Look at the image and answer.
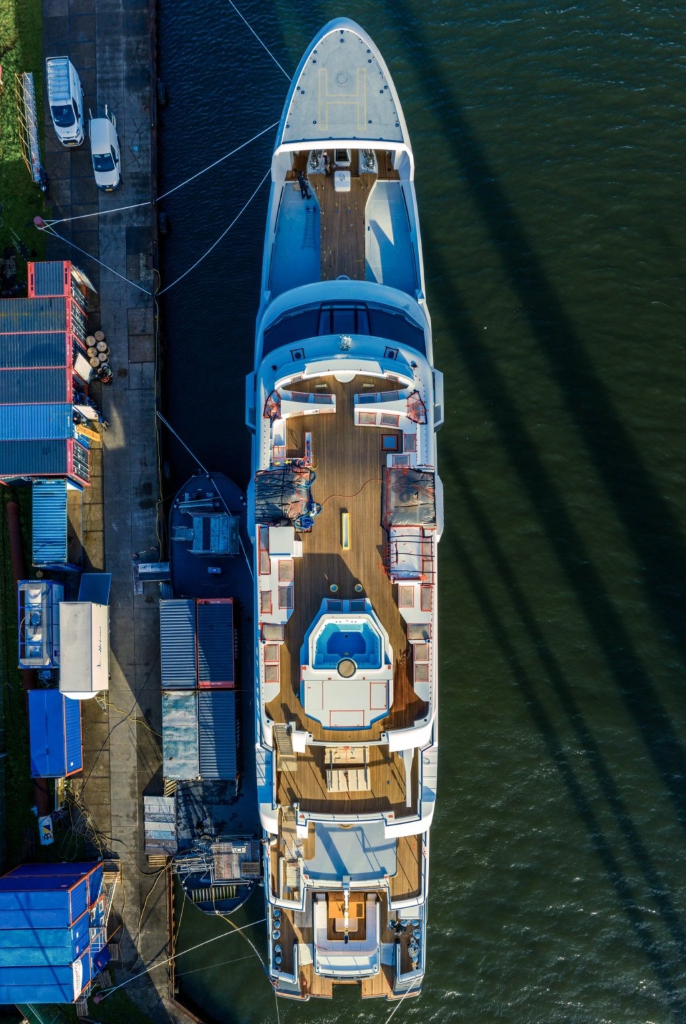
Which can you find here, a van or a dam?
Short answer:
van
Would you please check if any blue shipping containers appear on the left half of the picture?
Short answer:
Yes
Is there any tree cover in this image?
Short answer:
No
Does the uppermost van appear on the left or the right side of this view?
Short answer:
left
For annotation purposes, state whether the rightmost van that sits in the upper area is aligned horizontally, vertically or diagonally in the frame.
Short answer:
vertically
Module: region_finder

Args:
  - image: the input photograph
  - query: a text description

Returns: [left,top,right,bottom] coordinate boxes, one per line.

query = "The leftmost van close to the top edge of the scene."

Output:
[44,47,87,142]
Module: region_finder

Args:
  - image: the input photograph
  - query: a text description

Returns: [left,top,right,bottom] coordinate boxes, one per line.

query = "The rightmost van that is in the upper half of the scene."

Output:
[85,98,125,188]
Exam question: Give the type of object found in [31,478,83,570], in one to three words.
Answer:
shipping container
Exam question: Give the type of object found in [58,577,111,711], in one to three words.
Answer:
trailer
